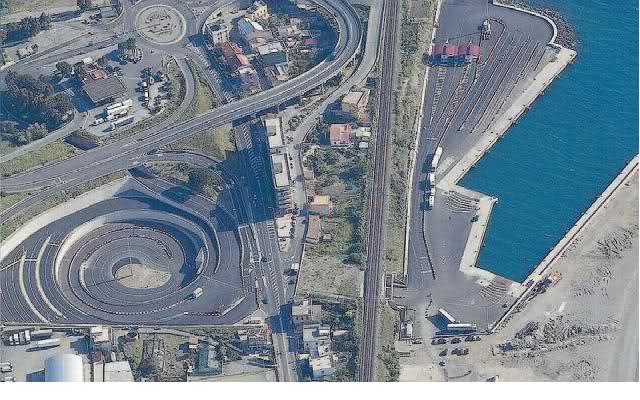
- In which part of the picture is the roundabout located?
top left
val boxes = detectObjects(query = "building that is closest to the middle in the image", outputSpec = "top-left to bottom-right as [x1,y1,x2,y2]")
[313,195,331,214]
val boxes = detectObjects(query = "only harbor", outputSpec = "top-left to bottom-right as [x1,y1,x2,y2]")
[404,0,640,334]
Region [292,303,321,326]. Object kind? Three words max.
house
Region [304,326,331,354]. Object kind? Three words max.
house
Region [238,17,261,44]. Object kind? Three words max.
building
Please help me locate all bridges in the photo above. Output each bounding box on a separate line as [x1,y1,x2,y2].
[0,0,362,193]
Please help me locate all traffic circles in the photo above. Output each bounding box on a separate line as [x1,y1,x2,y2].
[116,0,205,58]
